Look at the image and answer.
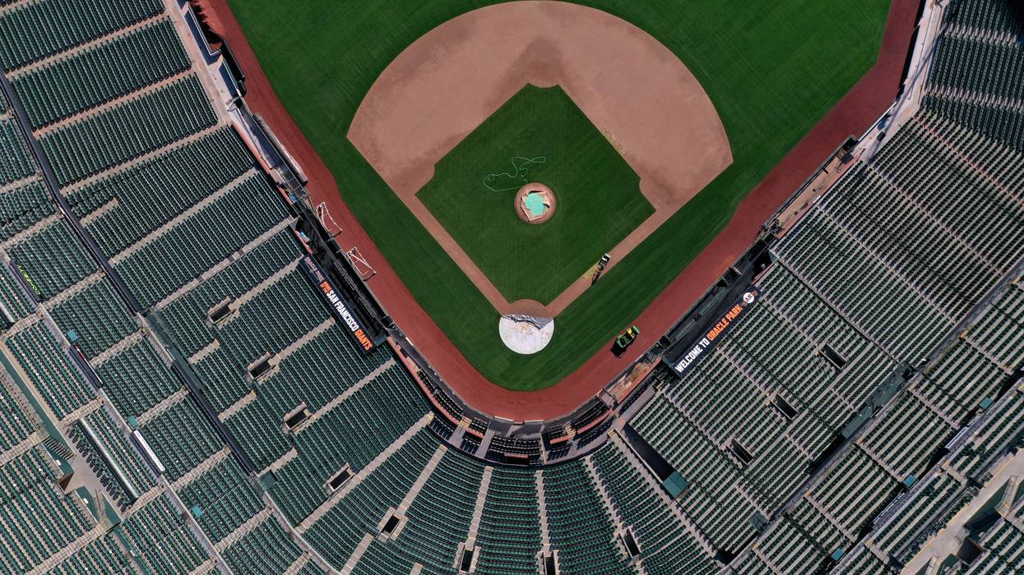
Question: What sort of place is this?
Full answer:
This image shows a sports ground.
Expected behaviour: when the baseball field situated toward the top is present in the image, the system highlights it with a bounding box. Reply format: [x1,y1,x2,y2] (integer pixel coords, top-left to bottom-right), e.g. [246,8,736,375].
[188,0,920,424]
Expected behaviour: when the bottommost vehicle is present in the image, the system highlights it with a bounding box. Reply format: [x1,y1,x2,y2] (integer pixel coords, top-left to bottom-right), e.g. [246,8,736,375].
[617,327,641,349]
